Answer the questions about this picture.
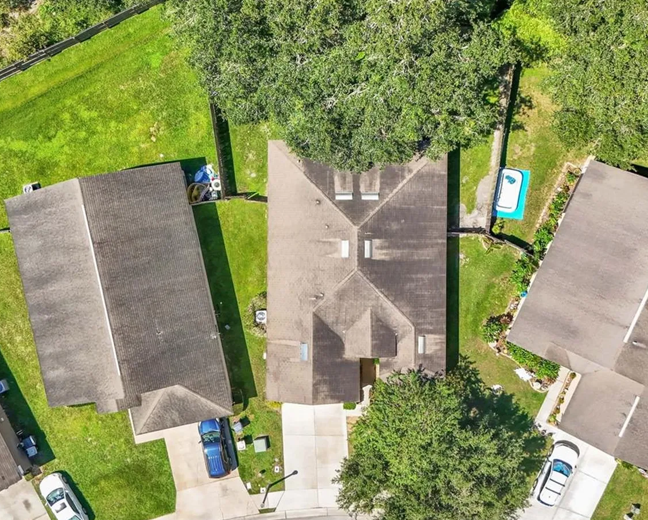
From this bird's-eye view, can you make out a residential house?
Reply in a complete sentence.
Yes, a residential house appears in the view.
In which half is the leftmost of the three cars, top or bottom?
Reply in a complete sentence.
The leftmost of the three cars is in the bottom half of the image.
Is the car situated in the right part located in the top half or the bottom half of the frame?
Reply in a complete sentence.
It is in the bottom half that the car situated in the right part appears.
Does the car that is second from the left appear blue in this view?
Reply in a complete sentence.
Yes, the car that is second from the left is blue.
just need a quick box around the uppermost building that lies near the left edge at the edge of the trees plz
[4,161,236,435]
